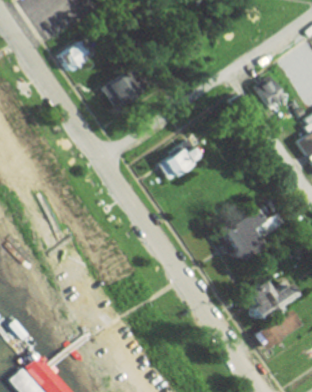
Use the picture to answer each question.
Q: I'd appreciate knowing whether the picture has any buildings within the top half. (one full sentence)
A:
Yes, there is a building within the top half.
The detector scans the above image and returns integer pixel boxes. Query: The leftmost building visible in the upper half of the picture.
[58,44,90,68]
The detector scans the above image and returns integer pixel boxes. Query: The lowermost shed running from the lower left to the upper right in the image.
[261,312,300,346]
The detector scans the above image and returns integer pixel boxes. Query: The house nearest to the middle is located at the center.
[159,144,204,180]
